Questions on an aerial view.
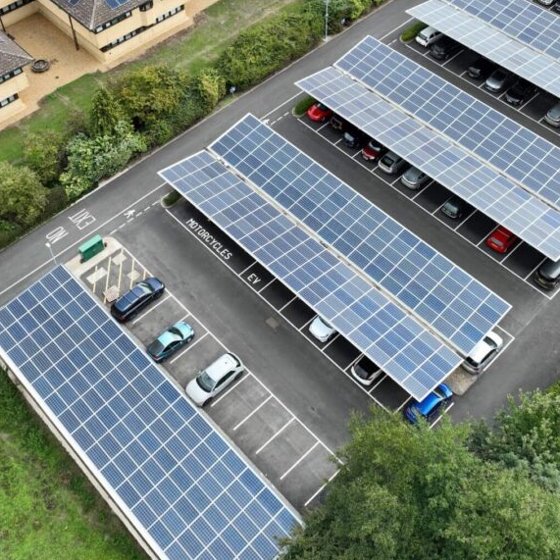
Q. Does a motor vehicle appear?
Yes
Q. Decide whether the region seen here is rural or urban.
urban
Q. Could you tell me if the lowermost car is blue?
Yes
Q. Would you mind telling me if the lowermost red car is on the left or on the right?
right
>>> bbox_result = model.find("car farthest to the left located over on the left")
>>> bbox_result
[107,279,163,324]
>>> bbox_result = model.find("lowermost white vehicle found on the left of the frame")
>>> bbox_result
[188,350,246,404]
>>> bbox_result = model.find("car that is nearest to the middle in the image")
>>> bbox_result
[311,316,338,341]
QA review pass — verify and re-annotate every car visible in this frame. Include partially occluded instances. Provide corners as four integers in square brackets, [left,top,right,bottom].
[311,316,338,341]
[380,152,410,177]
[487,225,520,254]
[307,102,335,124]
[145,315,200,364]
[361,139,391,163]
[471,56,501,77]
[413,25,445,49]
[432,35,464,59]
[329,114,353,134]
[107,279,163,324]
[403,382,454,431]
[443,194,473,220]
[188,350,246,404]
[464,329,505,370]
[547,103,560,127]
[534,258,560,288]
[344,126,371,149]
[486,66,520,92]
[507,77,539,102]
[401,166,431,190]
